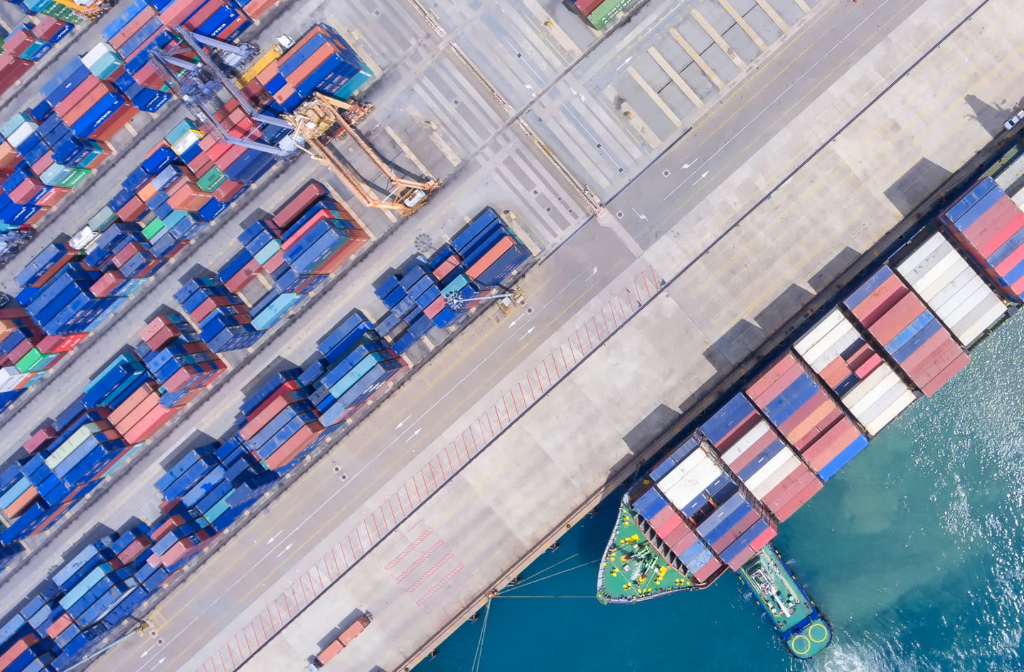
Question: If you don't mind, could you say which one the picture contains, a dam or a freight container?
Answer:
freight container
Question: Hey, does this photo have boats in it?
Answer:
Yes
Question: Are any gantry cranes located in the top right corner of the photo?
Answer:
No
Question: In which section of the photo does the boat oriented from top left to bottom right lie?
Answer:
bottom right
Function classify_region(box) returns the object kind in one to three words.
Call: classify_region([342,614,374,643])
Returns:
shipping container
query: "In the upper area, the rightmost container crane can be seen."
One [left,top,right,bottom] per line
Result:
[284,88,449,218]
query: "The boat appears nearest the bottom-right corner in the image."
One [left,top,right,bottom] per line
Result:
[733,540,836,660]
